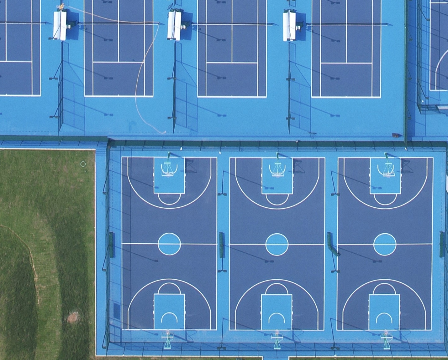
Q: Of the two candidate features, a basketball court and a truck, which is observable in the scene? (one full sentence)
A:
Visible in the photo is a basketball court.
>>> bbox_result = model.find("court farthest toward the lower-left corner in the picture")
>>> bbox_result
[122,157,217,330]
